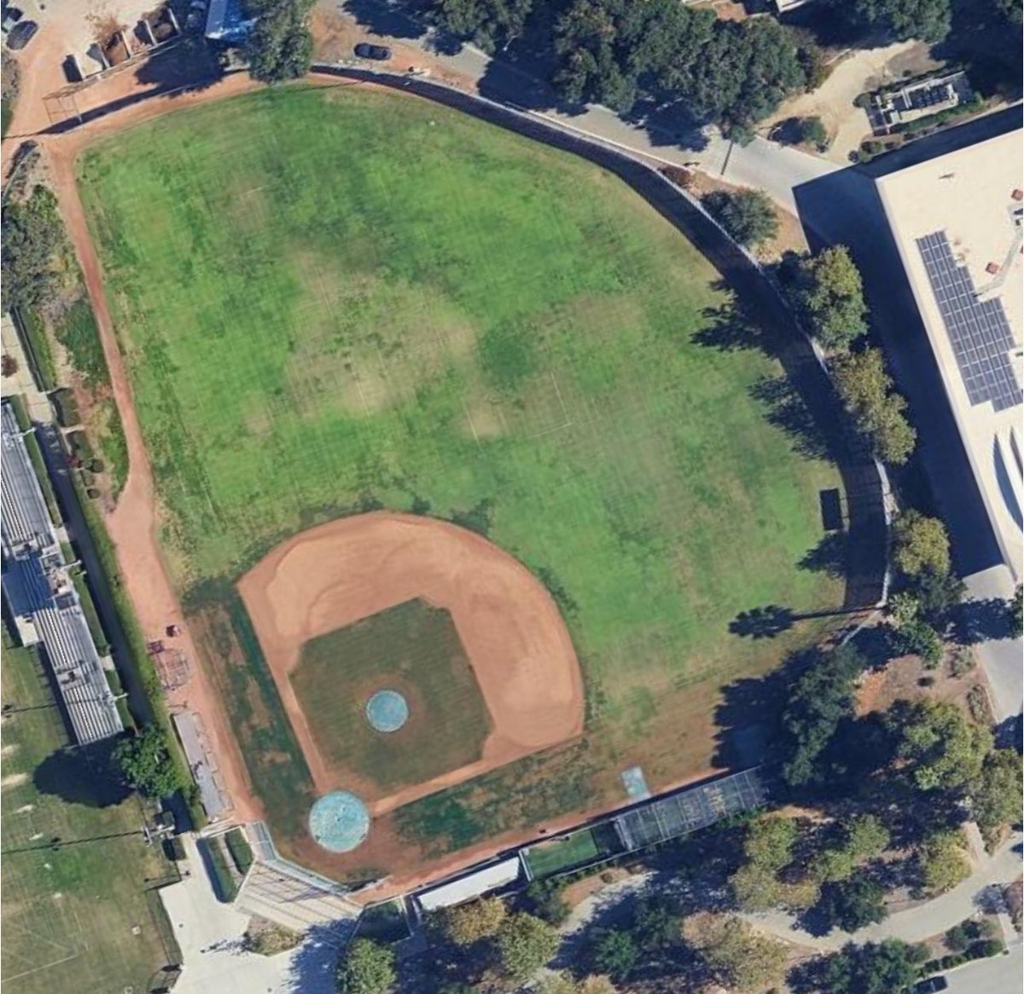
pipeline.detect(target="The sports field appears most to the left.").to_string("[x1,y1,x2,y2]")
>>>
[0,591,181,994]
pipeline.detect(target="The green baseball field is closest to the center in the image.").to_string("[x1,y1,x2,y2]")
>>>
[43,67,888,906]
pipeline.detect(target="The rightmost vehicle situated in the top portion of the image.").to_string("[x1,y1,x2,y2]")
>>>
[356,42,391,59]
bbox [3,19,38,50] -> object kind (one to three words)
car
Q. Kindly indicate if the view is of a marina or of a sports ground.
sports ground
